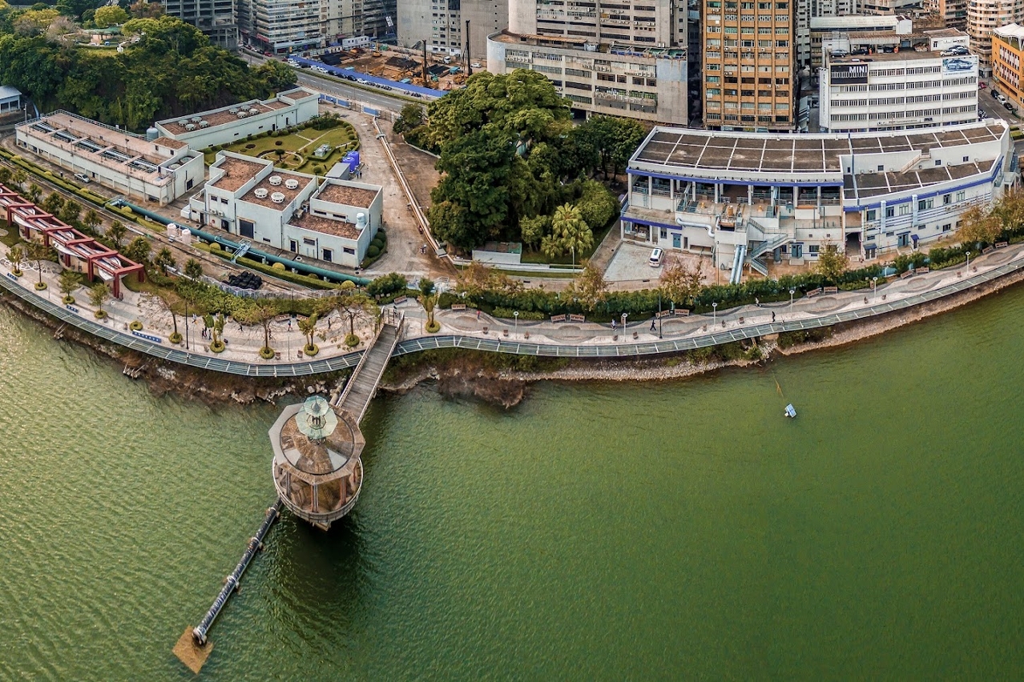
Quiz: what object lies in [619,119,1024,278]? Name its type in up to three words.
building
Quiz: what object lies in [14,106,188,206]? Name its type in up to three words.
building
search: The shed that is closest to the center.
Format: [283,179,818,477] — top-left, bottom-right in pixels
[472,241,521,265]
